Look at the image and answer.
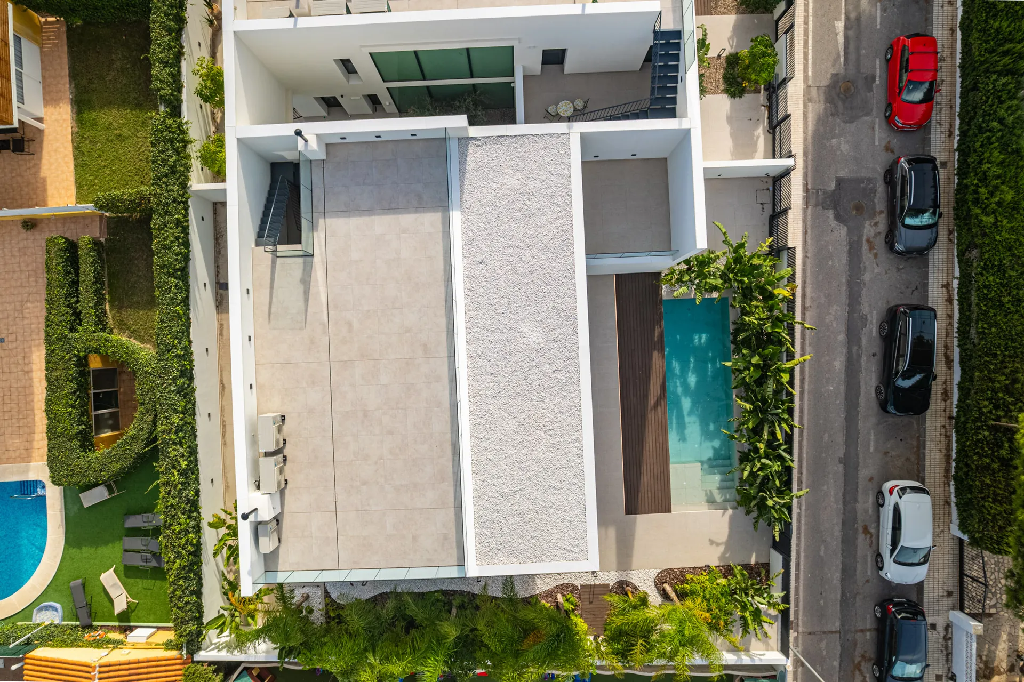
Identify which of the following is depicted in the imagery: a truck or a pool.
pool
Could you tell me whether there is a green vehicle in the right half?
No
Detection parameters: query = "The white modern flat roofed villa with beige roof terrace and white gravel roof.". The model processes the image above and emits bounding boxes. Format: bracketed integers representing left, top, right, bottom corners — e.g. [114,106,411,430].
[222,0,707,596]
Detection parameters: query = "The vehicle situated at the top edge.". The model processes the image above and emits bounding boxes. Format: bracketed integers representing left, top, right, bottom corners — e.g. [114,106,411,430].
[882,34,941,134]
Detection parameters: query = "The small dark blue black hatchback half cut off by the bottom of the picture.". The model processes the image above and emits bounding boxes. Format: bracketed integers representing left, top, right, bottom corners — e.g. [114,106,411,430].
[871,595,929,682]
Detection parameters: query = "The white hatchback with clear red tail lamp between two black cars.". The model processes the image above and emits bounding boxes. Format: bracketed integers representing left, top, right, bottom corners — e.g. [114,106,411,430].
[873,479,933,580]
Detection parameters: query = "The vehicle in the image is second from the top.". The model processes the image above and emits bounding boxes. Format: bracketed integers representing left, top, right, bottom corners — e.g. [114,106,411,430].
[879,154,941,259]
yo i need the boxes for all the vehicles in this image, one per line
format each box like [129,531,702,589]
[882,34,941,134]
[873,479,933,580]
[875,304,938,418]
[871,595,929,682]
[879,154,941,259]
